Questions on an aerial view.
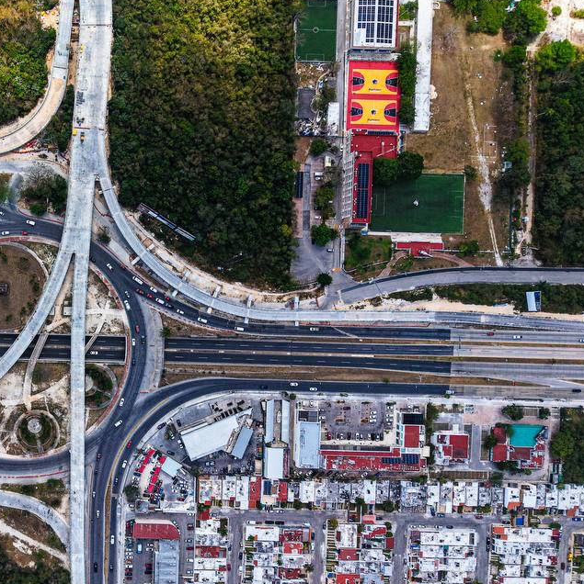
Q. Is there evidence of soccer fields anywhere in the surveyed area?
Yes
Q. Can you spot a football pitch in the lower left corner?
No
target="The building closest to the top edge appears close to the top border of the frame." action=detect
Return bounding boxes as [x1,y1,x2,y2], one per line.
[349,0,397,51]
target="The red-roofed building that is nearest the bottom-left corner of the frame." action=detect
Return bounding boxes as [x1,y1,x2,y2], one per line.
[132,522,179,539]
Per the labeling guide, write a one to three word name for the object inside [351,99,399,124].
basketball court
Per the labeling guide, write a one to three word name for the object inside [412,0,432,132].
building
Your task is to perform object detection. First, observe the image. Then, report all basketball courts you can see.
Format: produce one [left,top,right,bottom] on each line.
[351,99,399,124]
[352,69,400,94]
